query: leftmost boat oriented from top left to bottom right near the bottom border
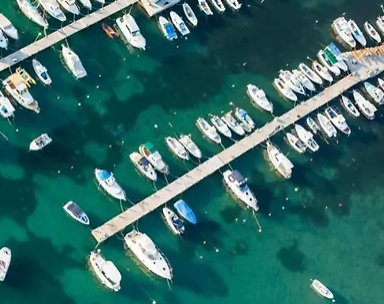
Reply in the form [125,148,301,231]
[85,240,120,304]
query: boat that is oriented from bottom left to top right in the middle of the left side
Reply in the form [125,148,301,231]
[27,133,51,154]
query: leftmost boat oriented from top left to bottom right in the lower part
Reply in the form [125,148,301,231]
[64,201,90,224]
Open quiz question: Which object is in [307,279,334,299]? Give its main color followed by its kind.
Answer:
white boat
